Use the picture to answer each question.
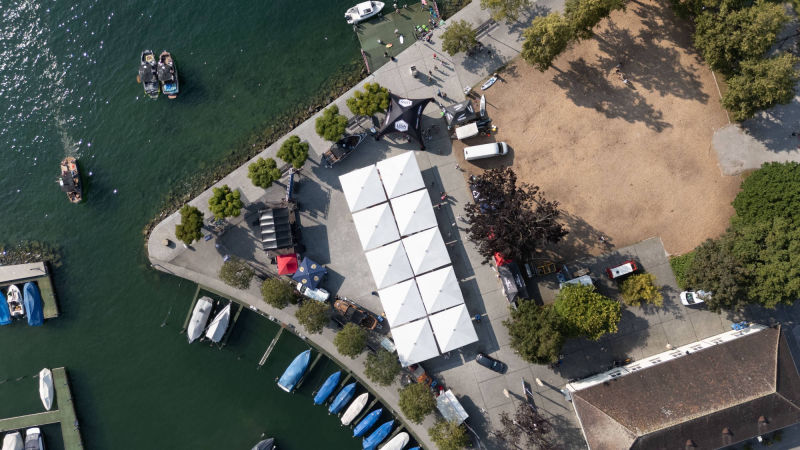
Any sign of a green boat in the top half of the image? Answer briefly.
No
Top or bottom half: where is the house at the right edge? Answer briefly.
bottom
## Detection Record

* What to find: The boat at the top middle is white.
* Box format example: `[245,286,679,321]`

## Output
[343,0,384,24]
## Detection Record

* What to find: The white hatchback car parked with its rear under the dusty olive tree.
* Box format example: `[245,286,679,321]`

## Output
[677,289,712,306]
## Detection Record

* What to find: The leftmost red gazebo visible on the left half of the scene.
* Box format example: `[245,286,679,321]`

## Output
[277,254,298,275]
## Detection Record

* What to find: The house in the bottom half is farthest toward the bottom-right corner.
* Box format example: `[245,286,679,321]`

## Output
[566,323,800,450]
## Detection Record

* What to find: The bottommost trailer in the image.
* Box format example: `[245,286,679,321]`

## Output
[437,384,469,423]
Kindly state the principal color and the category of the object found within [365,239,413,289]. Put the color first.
white tent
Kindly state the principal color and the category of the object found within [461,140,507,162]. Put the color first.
white vehicle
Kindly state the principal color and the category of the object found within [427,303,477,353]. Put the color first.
white tent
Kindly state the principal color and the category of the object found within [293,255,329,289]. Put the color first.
blue gazebo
